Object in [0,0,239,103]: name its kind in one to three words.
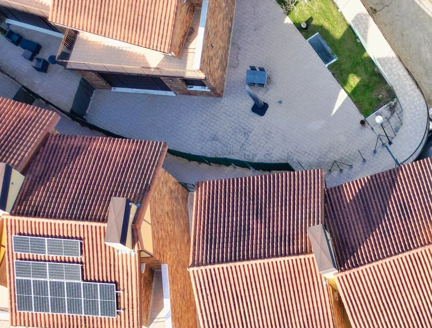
house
